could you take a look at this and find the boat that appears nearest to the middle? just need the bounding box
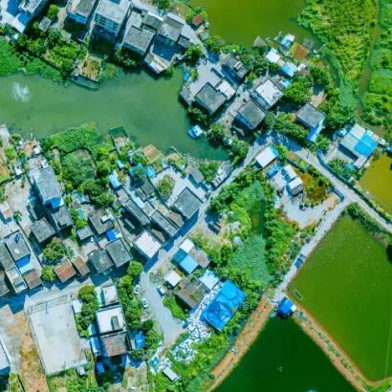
[188,124,203,137]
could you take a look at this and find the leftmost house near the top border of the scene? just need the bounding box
[0,0,29,37]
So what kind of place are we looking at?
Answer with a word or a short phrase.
residential area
